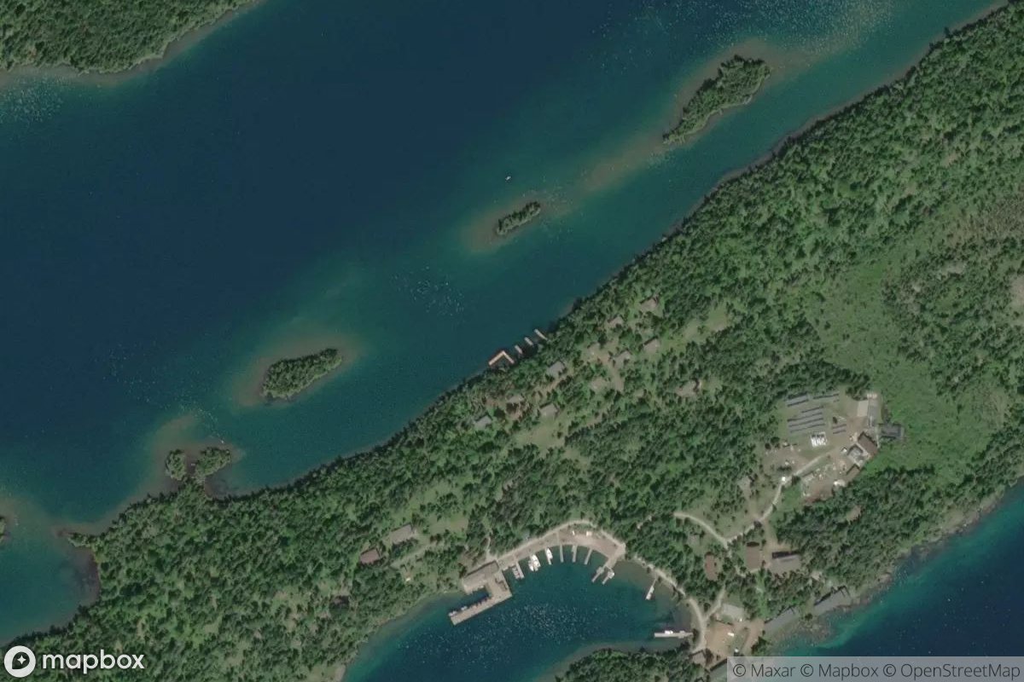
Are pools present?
No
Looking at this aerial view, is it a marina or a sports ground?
marina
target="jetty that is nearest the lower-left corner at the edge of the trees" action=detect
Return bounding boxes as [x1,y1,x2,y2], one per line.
[450,567,512,625]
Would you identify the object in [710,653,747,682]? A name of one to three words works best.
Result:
building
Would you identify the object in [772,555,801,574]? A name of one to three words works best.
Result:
building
